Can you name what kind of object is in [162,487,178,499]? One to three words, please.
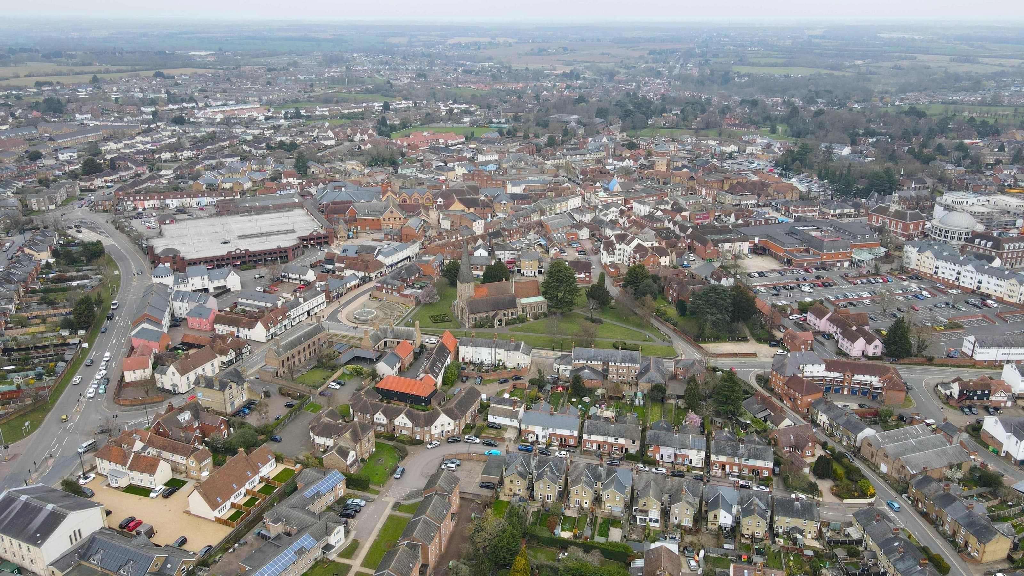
vehicle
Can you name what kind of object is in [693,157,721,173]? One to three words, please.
shed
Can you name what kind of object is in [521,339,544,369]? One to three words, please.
house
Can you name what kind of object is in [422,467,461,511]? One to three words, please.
building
